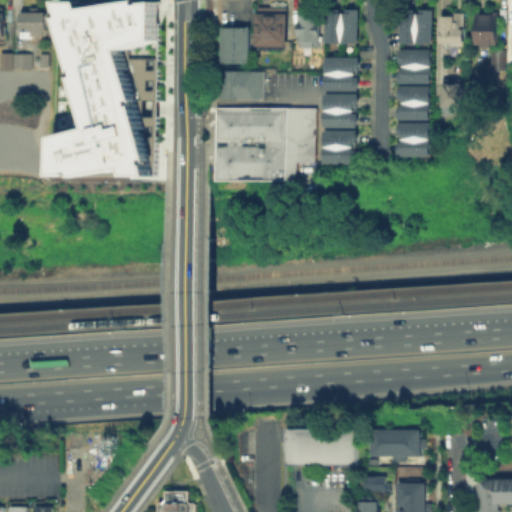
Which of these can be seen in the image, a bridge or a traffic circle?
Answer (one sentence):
The image shows a bridge.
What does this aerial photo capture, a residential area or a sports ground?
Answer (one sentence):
What you see here is a residential area.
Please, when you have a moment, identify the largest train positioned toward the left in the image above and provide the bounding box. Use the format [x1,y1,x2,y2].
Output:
[70,316,162,328]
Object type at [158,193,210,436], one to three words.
bridge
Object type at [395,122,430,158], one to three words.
house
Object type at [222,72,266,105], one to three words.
building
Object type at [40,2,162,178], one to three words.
building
